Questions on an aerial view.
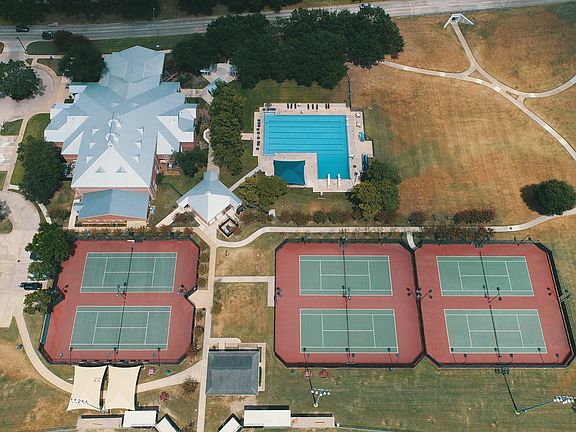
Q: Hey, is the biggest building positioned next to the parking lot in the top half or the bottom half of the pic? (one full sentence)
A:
The biggest building positioned next to the parking lot sits in the top half of the picture.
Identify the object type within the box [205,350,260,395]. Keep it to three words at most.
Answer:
building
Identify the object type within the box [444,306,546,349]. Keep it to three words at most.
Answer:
tennis court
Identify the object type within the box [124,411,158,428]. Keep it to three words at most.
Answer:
shed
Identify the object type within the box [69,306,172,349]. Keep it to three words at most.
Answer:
tennis court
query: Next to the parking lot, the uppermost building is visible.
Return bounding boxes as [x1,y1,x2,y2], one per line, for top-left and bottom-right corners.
[51,44,196,230]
